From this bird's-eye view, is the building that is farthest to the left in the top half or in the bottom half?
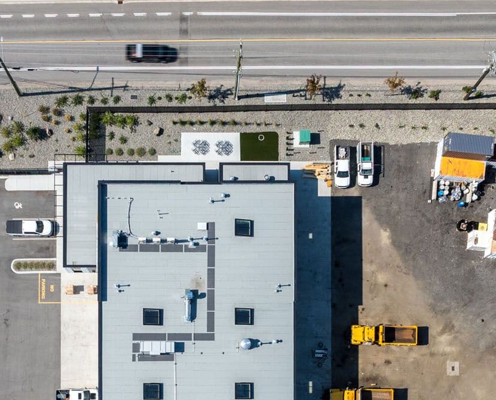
bottom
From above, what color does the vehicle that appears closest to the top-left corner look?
black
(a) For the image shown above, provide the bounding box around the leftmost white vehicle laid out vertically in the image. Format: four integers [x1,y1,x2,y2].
[335,142,354,189]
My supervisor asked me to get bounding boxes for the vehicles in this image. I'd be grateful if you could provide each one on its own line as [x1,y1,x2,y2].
[358,138,377,187]
[55,387,98,400]
[329,386,400,400]
[335,142,354,189]
[351,321,424,345]
[6,217,51,236]
[128,40,176,61]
